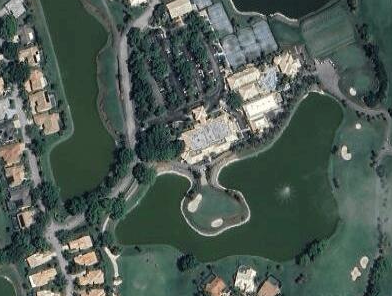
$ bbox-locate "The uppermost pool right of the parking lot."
[259,71,277,89]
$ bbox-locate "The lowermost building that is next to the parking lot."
[181,110,242,167]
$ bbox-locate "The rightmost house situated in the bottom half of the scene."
[257,273,283,296]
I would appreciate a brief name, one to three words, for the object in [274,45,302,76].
building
